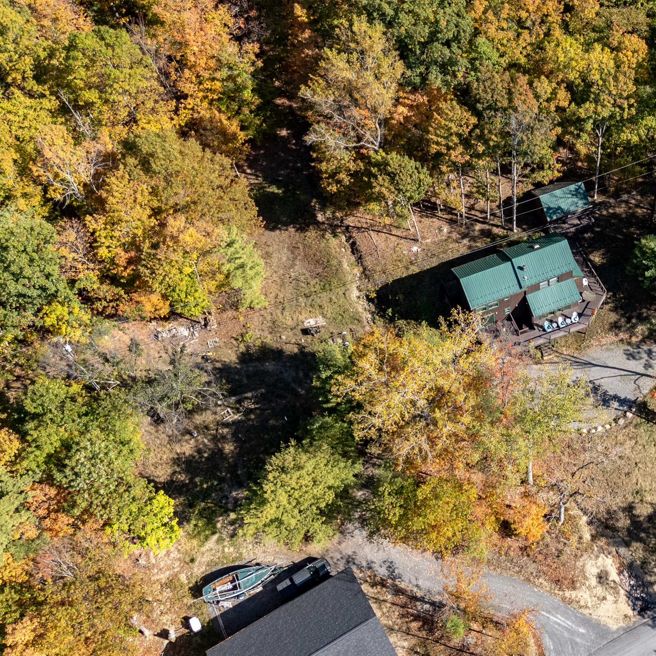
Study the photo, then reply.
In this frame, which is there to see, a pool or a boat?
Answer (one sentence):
Visible in the photo is a boat.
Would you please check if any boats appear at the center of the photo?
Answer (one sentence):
No, no boat appears at the center of the photo.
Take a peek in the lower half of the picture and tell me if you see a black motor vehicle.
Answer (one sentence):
Yes, you'll find a black motor vehicle in the lower half of the picture.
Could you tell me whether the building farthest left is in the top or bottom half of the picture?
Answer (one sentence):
The building farthest left sits in the bottom half of the picture.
